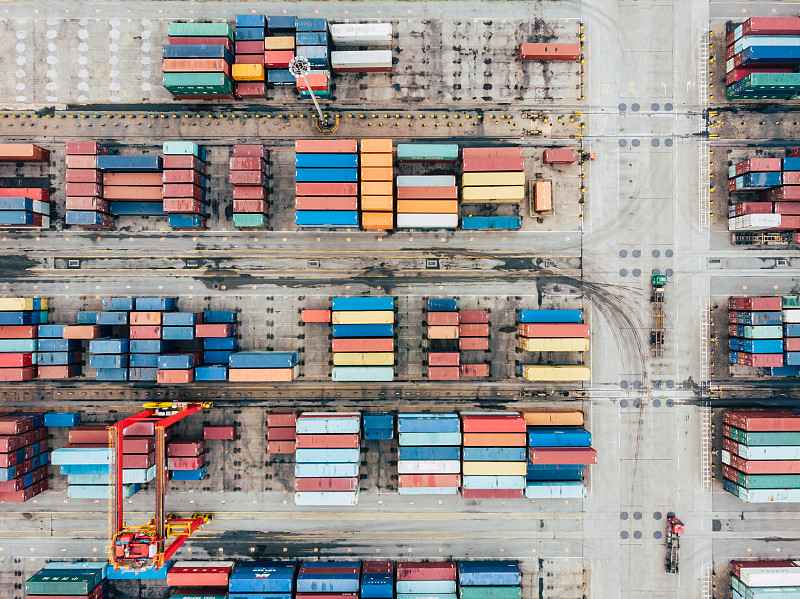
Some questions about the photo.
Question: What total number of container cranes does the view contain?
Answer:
1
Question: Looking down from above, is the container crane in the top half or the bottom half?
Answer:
bottom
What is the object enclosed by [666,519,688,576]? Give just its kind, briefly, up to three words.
truck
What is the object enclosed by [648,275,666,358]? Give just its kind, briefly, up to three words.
vehicle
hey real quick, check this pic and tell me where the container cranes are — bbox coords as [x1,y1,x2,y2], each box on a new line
[102,401,216,574]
